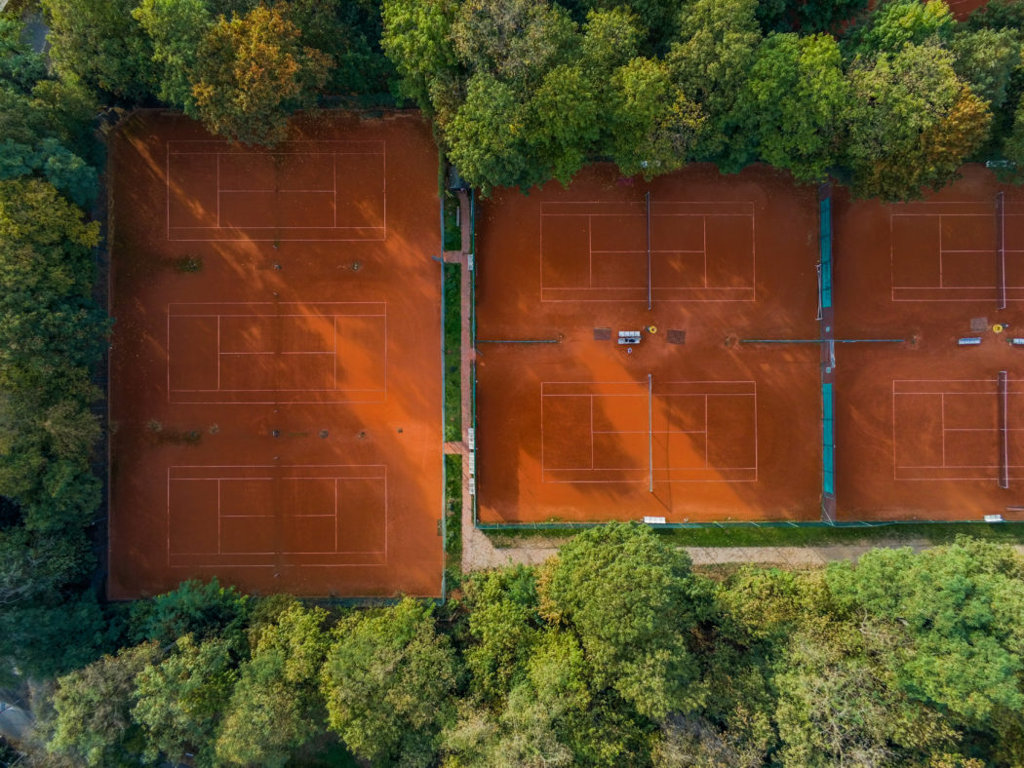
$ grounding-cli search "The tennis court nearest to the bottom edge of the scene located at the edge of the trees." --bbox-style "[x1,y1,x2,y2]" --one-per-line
[108,434,446,599]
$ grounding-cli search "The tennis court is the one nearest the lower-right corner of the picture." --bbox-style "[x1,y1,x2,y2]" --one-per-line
[836,341,1024,521]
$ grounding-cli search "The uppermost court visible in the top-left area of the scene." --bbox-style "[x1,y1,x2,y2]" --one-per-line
[108,109,445,272]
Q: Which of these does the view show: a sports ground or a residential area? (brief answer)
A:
sports ground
